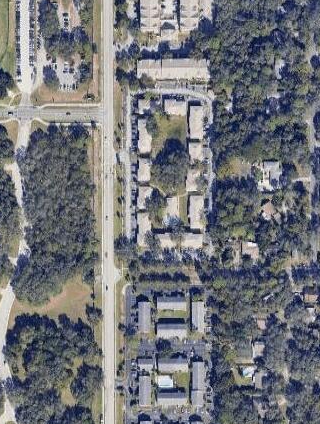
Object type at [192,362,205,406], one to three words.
building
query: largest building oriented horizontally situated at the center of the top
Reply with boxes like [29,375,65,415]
[137,59,210,80]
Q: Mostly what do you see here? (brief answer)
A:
trees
